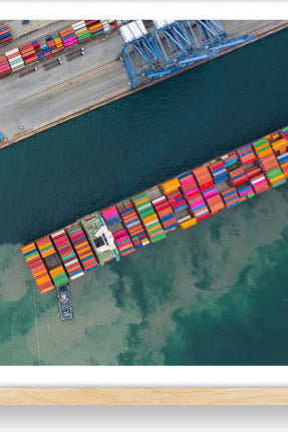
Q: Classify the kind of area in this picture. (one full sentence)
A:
The area seen from above is a port.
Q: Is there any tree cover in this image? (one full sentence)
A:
No, tree cover can't be seen anywhere here.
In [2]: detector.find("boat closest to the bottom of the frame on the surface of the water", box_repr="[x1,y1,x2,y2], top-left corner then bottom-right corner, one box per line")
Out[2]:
[56,282,74,322]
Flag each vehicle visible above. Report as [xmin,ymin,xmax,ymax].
[67,47,84,56]
[69,51,84,60]
[20,68,38,76]
[44,58,61,65]
[46,61,62,69]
